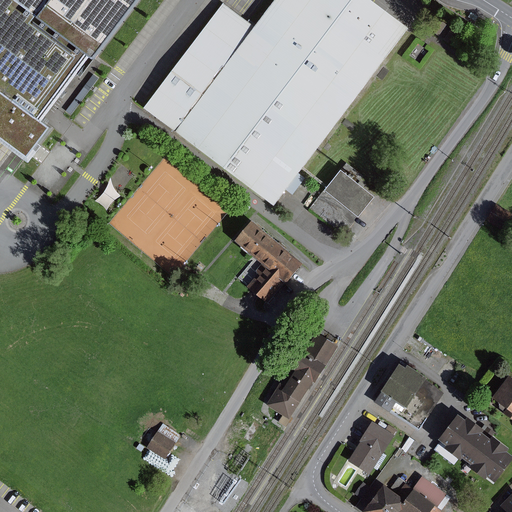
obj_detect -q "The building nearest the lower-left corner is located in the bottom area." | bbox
[146,424,180,459]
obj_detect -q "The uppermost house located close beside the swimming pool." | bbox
[348,422,396,476]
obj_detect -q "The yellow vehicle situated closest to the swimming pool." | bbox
[363,410,380,424]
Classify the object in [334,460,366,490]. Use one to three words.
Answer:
swimming pool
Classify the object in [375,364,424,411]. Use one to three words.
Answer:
house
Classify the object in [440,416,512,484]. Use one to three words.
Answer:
house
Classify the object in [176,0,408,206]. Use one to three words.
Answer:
building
